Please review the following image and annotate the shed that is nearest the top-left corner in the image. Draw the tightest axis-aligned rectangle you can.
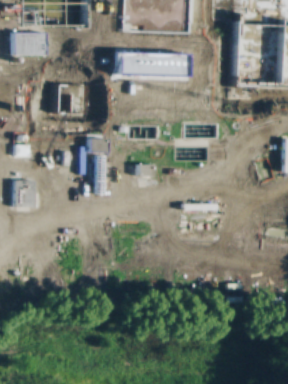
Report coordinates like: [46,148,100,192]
[11,32,47,60]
